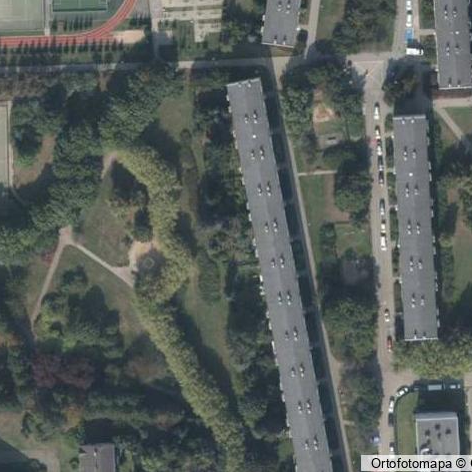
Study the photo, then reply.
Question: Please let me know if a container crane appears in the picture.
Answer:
No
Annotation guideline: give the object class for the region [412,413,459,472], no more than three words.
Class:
building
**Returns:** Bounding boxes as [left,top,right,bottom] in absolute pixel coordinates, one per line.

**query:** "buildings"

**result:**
[430,0,472,90]
[412,413,459,472]
[225,78,331,472]
[391,116,440,340]
[259,0,301,49]
[77,444,116,472]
